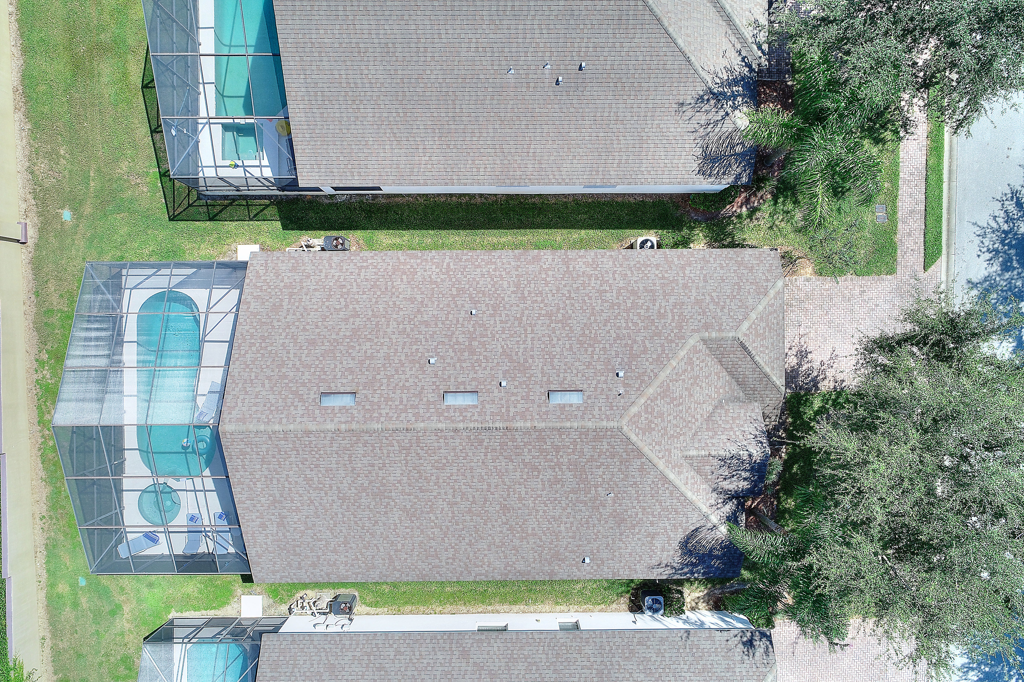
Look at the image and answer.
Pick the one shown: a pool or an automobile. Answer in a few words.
pool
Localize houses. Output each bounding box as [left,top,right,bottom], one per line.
[218,247,787,583]
[256,611,780,682]
[272,0,769,194]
